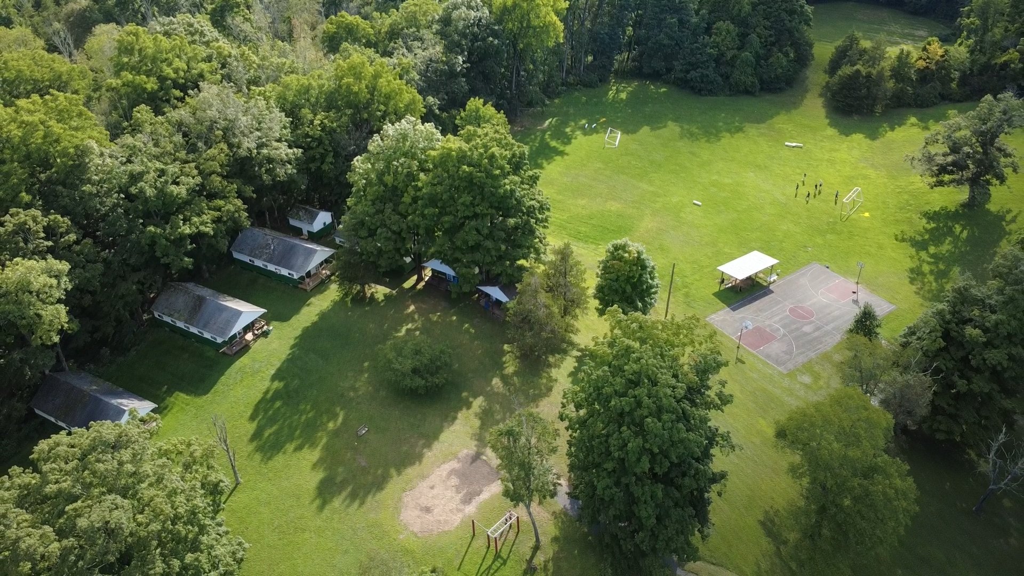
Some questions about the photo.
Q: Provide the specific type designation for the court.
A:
basketball court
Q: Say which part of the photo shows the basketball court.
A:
right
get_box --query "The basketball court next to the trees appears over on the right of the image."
[706,263,896,372]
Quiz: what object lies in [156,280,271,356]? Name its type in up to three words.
building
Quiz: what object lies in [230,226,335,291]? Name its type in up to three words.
building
